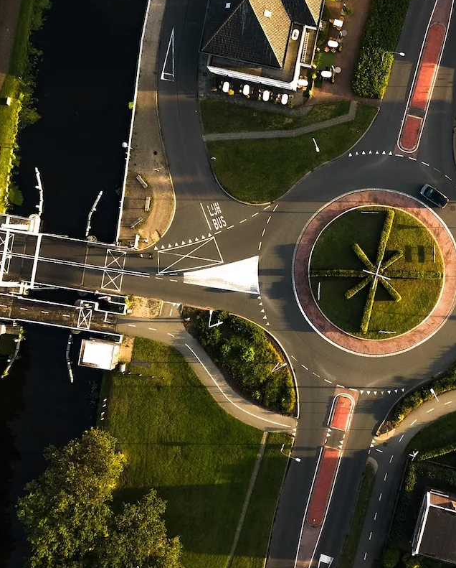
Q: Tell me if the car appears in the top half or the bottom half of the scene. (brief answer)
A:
top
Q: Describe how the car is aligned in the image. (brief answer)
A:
at an angle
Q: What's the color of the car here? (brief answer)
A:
black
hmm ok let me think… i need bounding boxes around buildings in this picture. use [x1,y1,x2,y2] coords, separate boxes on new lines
[78,338,125,370]
[199,0,325,88]
[415,484,456,564]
